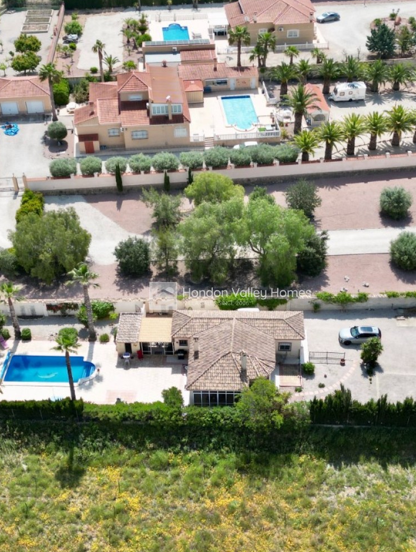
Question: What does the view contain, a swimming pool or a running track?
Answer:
swimming pool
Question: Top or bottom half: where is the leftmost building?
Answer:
top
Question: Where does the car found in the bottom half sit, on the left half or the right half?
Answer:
right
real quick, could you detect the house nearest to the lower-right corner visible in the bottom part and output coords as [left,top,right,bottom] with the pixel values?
[171,310,305,406]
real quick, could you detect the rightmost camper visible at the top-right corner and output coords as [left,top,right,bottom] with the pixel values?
[330,80,372,103]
